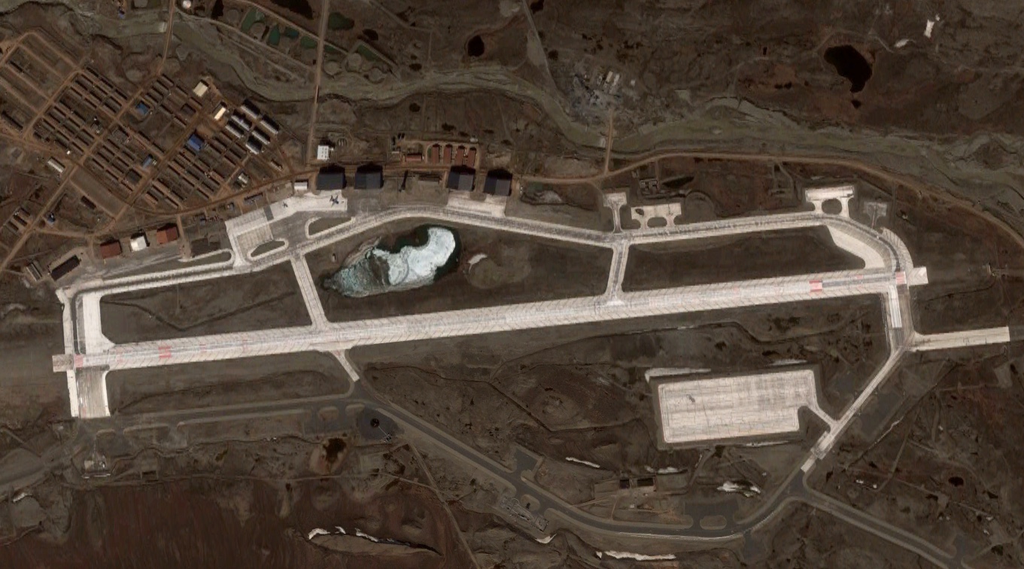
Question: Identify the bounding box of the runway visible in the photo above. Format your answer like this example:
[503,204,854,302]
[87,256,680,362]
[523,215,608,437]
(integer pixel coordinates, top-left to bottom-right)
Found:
[72,264,911,374]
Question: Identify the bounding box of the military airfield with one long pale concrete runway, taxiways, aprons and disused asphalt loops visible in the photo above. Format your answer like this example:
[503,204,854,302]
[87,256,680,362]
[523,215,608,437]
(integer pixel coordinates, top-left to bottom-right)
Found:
[53,185,1010,569]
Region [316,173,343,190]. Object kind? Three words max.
hangar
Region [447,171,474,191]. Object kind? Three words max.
hangar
